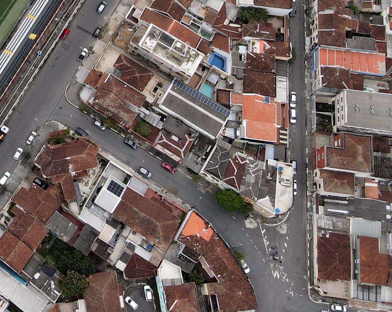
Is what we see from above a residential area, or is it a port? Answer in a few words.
residential area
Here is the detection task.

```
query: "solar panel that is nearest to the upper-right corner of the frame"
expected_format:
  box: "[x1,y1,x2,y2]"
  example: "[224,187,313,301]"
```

[174,79,229,118]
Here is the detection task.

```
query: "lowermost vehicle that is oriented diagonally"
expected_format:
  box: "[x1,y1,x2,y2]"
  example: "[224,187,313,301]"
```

[124,296,138,312]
